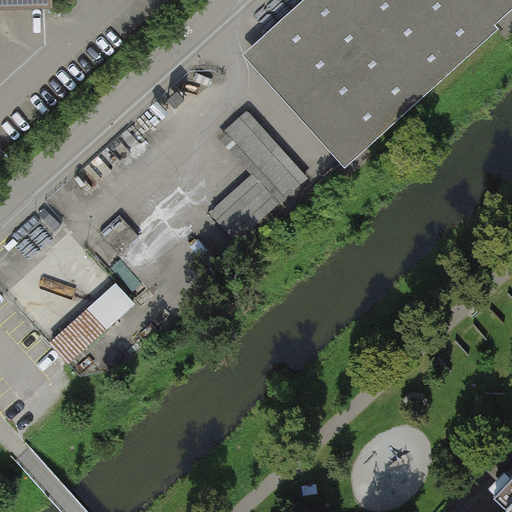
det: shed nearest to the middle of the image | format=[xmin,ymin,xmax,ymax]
[208,174,282,242]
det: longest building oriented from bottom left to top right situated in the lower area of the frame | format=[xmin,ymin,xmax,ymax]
[50,283,134,364]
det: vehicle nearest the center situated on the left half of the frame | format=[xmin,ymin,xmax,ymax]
[188,236,208,258]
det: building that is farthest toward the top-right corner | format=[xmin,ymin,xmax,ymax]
[244,0,512,168]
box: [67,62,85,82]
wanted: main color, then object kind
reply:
white car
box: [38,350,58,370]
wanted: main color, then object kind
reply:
white vehicle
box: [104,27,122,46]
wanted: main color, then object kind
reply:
white car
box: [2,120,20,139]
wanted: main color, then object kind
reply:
white vehicle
